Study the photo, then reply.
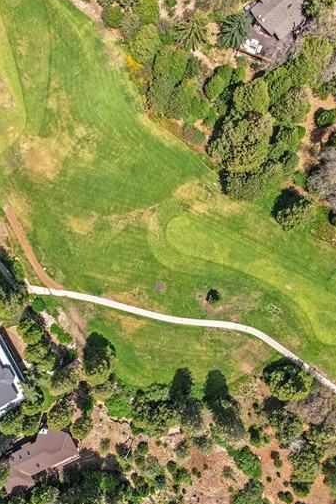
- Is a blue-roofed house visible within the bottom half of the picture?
No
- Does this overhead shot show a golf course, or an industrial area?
golf course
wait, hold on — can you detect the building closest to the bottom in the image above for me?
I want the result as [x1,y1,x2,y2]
[4,428,81,494]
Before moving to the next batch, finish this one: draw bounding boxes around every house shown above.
[240,0,308,63]
[4,428,81,494]
[0,333,26,411]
